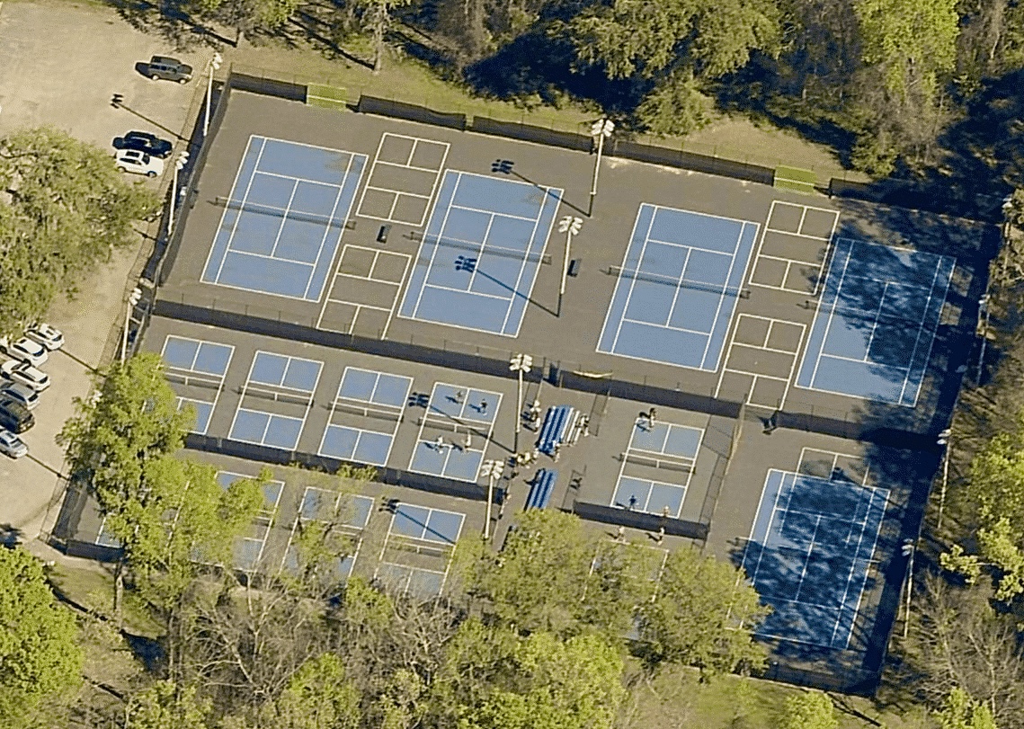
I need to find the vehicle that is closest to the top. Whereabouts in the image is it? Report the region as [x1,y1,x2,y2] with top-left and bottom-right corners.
[143,58,195,88]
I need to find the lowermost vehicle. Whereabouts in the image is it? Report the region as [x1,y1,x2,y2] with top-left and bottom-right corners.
[0,424,31,456]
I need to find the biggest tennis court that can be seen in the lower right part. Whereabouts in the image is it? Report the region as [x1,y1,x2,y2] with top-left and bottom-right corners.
[735,470,889,648]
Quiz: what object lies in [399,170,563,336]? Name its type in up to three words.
tennis court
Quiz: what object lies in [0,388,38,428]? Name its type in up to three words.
car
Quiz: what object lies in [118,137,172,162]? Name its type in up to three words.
car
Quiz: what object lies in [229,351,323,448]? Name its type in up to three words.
sports court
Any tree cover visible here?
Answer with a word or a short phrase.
Yes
